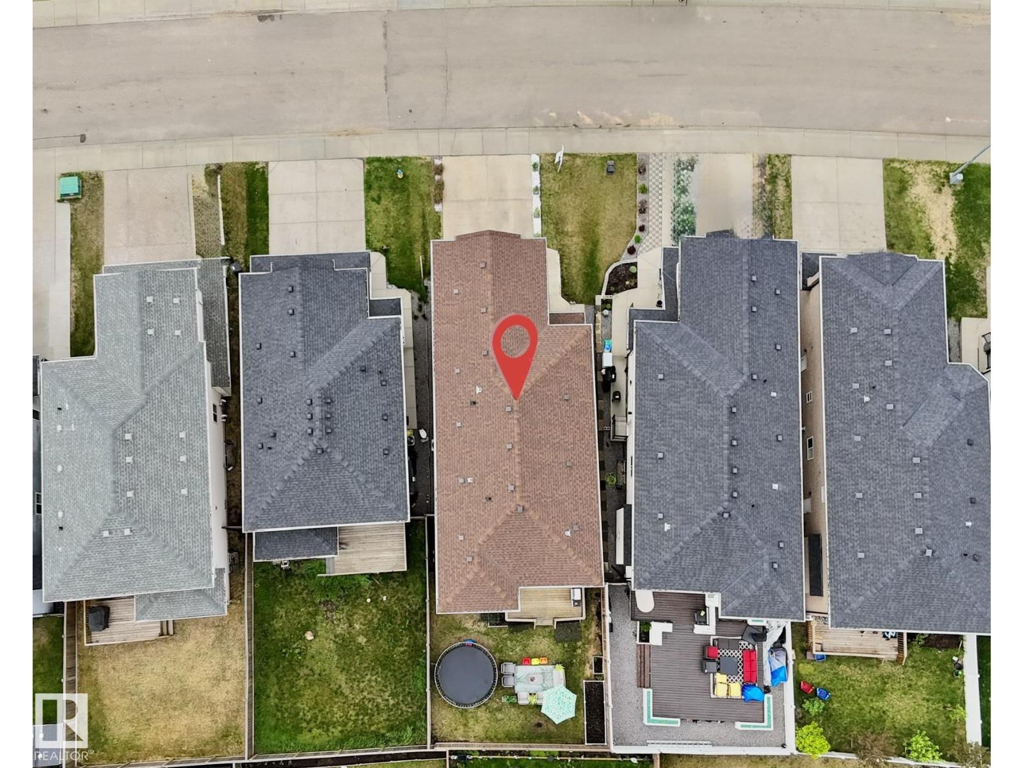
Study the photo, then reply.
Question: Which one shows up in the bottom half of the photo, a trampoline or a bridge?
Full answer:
You can see a trampoline in the bottom half of the photo.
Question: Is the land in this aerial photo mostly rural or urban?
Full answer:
The area shown here is urban.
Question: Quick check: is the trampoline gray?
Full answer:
Yes, the trampoline is indeed gray.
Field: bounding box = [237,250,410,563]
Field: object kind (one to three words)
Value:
house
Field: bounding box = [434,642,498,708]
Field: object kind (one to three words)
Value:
trampoline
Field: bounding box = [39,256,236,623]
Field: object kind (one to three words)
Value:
house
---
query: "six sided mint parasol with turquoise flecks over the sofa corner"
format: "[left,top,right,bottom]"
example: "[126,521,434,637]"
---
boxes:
[540,685,576,724]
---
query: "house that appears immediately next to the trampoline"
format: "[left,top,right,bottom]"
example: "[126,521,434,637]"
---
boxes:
[430,230,605,615]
